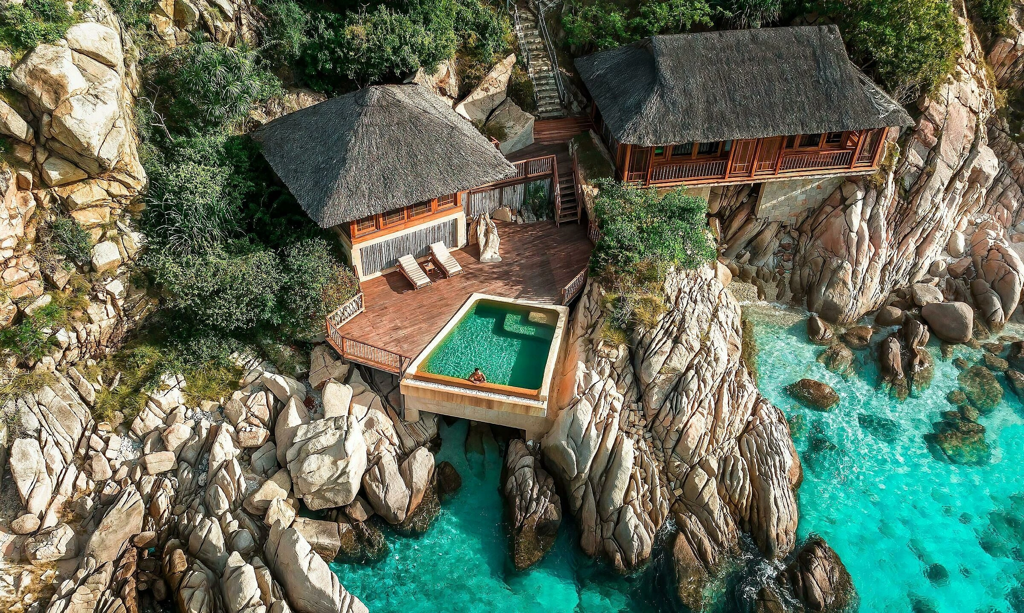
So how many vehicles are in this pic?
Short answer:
0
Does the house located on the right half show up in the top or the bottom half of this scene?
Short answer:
top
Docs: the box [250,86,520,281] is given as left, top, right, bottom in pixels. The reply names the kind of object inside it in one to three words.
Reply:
building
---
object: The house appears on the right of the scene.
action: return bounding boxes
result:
[573,17,914,194]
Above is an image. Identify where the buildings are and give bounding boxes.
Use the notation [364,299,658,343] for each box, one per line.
[573,17,914,194]
[250,86,520,281]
